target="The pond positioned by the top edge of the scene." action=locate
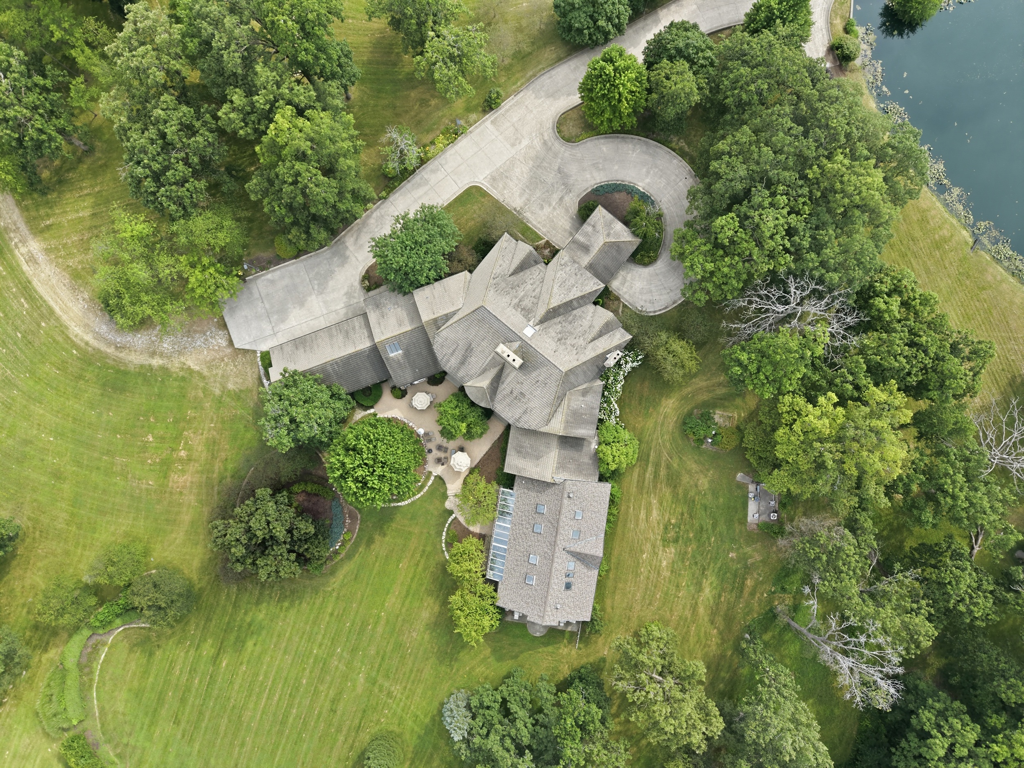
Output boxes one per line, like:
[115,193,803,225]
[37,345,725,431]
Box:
[854,0,1024,285]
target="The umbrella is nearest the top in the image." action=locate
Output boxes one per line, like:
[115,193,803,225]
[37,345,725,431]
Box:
[412,392,430,410]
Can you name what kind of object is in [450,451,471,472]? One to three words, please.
umbrella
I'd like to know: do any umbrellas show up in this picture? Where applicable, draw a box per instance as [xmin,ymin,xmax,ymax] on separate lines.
[412,392,430,410]
[450,451,471,472]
